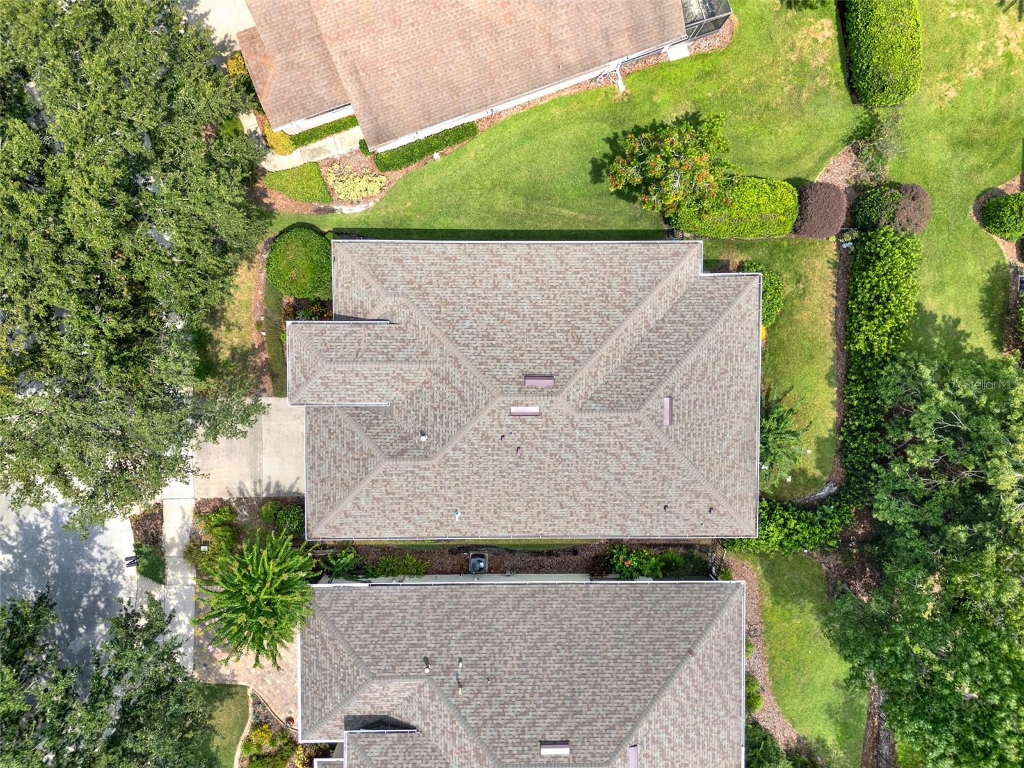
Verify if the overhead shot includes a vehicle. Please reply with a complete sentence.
No, I find no vehicle anywhere in the image.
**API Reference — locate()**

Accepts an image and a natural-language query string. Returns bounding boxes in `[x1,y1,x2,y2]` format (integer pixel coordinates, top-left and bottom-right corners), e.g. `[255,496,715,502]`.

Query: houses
[237,0,688,155]
[287,241,760,539]
[299,574,744,768]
